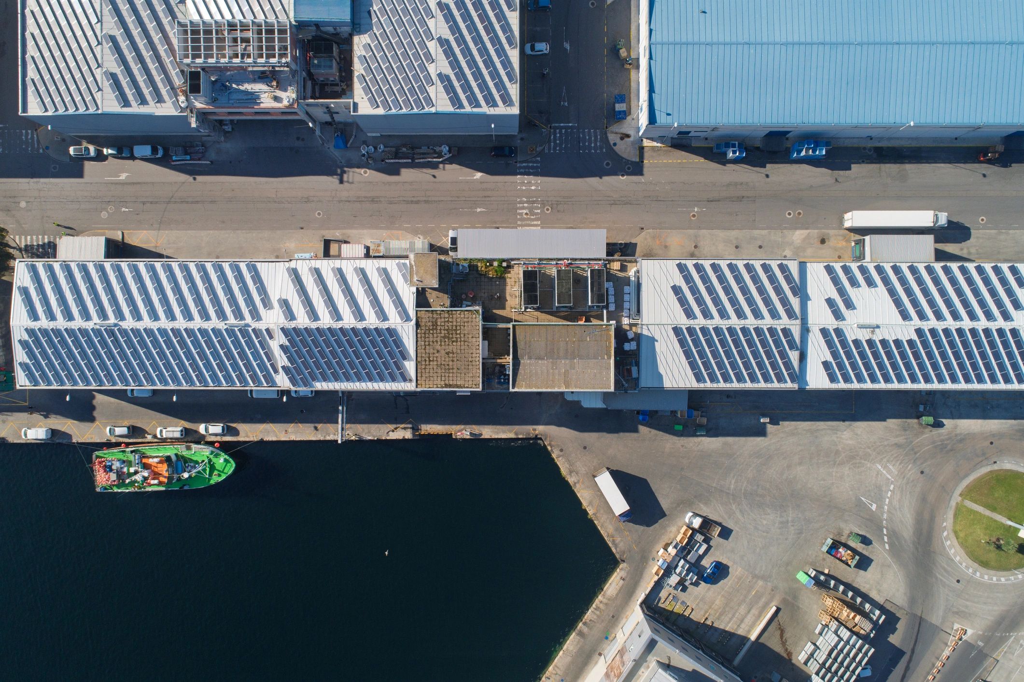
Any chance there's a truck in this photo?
Yes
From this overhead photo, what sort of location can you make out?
industrial area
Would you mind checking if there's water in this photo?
Yes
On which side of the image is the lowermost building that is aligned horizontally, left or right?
right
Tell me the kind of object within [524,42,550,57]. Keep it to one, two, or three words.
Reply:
car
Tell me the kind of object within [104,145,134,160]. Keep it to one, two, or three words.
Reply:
car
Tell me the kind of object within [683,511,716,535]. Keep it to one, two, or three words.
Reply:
truck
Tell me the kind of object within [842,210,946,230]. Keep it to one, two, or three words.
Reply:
vehicle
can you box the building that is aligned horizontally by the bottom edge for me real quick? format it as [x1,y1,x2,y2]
[570,603,766,682]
